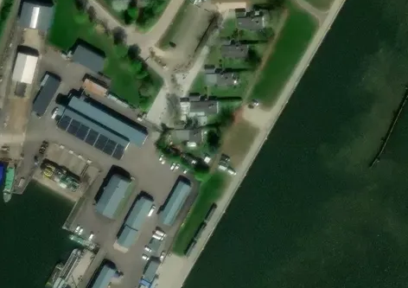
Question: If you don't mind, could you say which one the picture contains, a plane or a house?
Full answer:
The one in the frame is a house.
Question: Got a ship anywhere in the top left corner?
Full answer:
No, no ship is visible in the top left corner.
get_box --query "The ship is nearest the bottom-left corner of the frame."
[45,263,64,288]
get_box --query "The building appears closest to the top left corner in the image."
[19,0,56,30]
